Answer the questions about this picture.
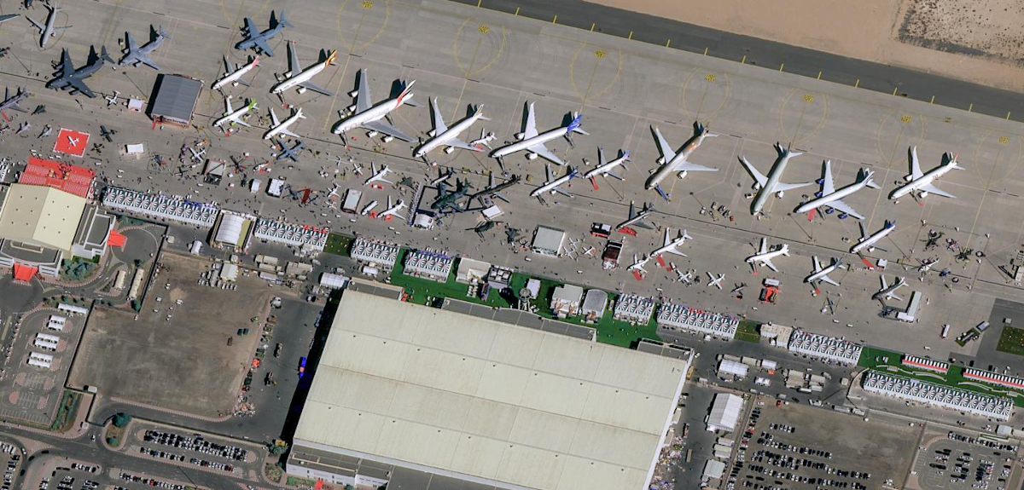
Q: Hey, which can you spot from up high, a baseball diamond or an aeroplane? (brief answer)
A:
aeroplane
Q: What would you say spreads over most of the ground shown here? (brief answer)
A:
paved ground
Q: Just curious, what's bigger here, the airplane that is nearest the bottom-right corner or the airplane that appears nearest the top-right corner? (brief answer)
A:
the airplane that appears nearest the top-right corner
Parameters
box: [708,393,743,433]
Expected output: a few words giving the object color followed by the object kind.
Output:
white tent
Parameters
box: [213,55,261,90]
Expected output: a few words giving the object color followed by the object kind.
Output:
white airplane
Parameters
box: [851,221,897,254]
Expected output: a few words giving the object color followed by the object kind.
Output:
white airplane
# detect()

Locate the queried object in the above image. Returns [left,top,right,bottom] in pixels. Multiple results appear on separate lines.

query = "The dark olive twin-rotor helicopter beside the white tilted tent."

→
[470,216,501,235]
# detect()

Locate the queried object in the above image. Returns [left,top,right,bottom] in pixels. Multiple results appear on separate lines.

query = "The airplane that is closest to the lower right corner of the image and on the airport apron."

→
[873,275,908,303]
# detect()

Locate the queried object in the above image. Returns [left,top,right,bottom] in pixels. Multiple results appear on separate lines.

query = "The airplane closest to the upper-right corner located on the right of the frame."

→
[890,147,961,199]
